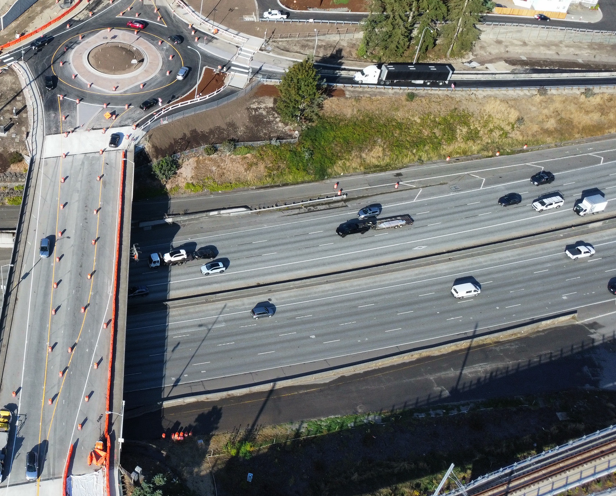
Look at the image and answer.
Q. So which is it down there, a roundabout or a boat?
roundabout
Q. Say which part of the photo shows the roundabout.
top left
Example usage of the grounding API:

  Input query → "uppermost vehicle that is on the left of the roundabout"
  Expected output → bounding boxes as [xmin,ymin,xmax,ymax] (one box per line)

[32,35,50,48]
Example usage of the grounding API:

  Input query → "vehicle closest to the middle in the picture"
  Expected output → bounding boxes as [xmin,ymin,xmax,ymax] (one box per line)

[338,222,370,237]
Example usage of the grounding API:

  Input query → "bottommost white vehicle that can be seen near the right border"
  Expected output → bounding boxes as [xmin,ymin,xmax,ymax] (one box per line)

[562,246,596,261]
